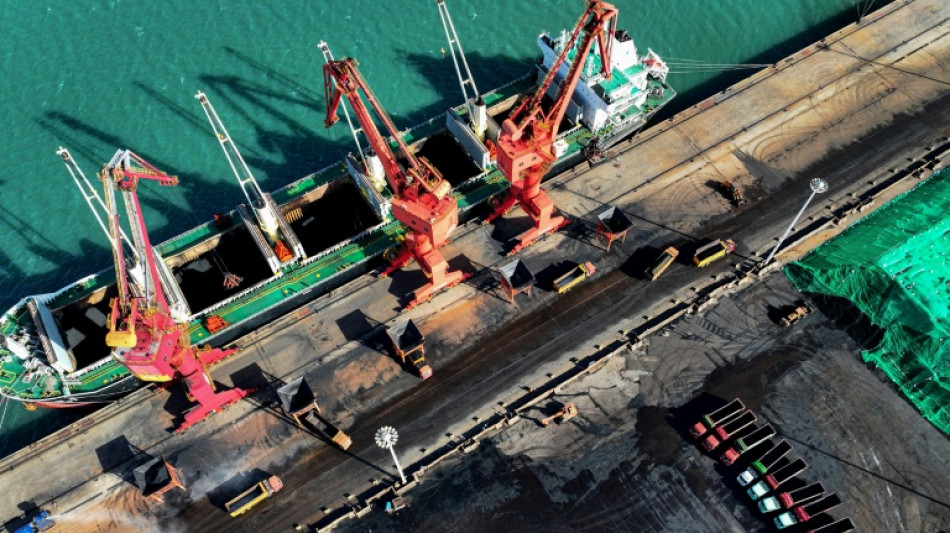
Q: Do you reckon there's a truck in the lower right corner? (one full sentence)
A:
Yes, looking in the lower right corner, one can make out a truck.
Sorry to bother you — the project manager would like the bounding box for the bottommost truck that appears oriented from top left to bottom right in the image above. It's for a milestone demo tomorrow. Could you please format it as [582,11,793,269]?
[302,406,358,453]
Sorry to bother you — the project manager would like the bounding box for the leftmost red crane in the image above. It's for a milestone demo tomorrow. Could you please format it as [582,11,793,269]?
[86,154,258,434]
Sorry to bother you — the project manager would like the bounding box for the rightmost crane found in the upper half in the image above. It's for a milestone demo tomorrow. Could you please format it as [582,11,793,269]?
[482,0,626,255]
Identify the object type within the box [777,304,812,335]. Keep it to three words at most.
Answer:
work vehicle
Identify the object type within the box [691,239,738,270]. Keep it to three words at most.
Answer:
truck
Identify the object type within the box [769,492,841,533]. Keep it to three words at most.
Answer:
truck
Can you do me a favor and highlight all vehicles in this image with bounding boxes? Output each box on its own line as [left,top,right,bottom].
[753,481,825,517]
[386,496,407,517]
[224,473,287,517]
[544,399,581,428]
[643,247,679,284]
[722,174,747,197]
[551,260,596,296]
[302,406,358,453]
[691,239,738,270]
[717,424,776,470]
[687,398,745,443]
[732,438,792,490]
[777,304,812,335]
[699,410,757,457]
[769,492,841,533]
[404,345,434,384]
[809,517,856,533]
[743,457,807,503]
